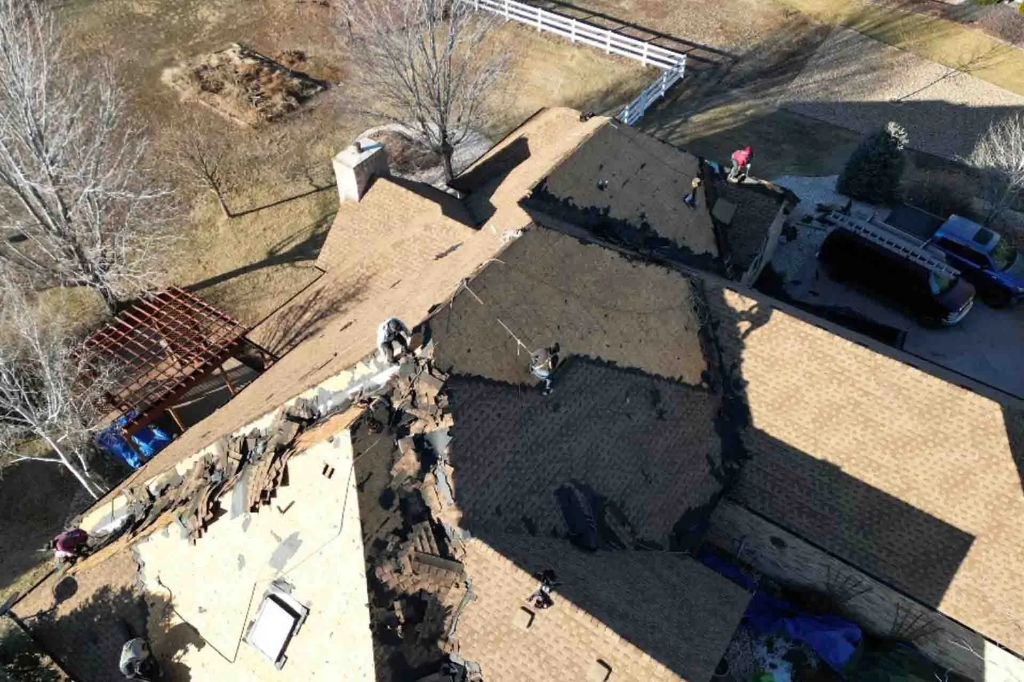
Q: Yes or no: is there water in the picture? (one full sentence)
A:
No, there is no water in the image.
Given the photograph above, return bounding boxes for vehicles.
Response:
[874,200,1024,300]
[813,202,981,320]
